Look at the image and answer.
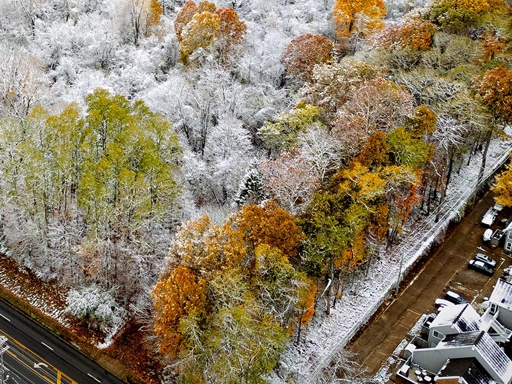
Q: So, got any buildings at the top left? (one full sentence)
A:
No, I can find no building at the top left.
